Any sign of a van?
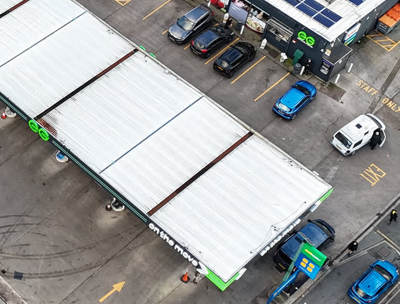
Yes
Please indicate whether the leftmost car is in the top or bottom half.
top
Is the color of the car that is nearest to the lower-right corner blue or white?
blue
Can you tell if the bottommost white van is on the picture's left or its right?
right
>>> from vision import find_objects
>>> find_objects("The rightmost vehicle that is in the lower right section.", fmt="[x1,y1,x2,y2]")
[348,260,399,304]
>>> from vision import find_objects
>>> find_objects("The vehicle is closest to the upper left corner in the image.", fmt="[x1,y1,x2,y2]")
[169,3,212,42]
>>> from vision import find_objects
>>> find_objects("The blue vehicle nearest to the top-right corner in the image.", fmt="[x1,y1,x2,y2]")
[272,83,316,120]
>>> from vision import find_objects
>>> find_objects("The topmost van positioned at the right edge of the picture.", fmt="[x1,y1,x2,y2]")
[331,112,391,158]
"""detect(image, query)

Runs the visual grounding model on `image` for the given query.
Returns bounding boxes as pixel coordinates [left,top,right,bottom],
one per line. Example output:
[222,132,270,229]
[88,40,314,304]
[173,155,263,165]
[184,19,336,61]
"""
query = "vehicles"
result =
[169,3,212,42]
[348,260,399,304]
[213,42,257,77]
[272,83,316,120]
[272,220,331,271]
[192,26,234,58]
[331,112,391,158]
